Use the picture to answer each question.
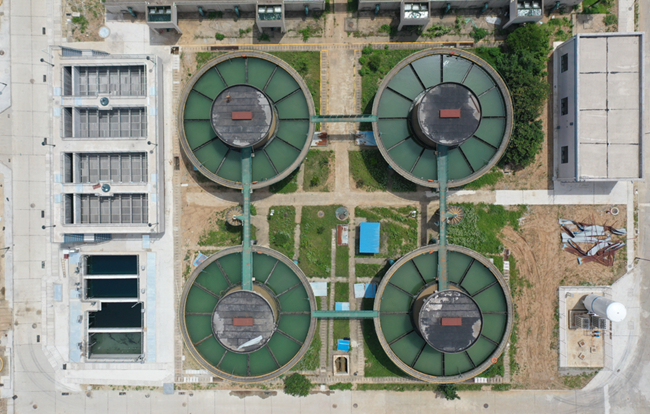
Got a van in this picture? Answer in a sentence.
No, I find no van anywhere in the image.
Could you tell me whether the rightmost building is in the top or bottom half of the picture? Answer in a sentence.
Seen from above, the rightmost building lies in the top half of the view.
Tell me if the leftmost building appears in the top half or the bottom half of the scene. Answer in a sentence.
The top half of the photo is where the leftmost building is.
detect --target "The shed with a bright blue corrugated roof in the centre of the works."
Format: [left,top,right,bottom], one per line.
[360,222,380,253]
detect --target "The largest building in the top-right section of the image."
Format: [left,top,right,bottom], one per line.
[555,33,643,182]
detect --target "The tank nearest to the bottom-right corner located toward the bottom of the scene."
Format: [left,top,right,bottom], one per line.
[578,292,624,321]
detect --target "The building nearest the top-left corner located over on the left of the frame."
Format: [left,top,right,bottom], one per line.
[48,46,162,242]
